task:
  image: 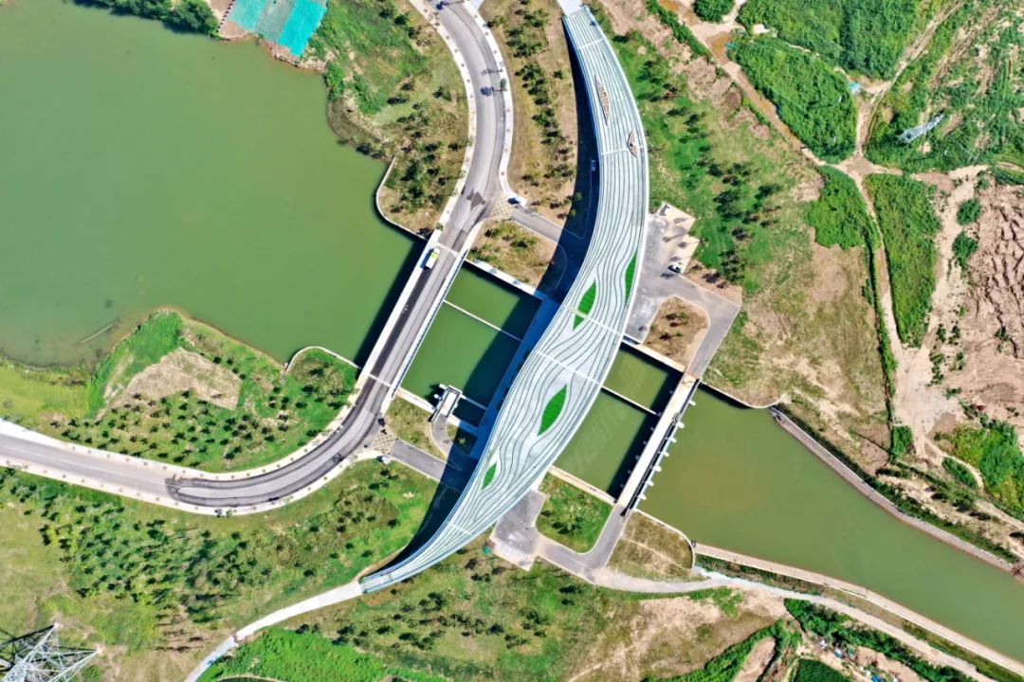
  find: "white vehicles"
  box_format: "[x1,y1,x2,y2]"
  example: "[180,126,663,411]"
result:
[671,263,682,271]
[426,249,440,269]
